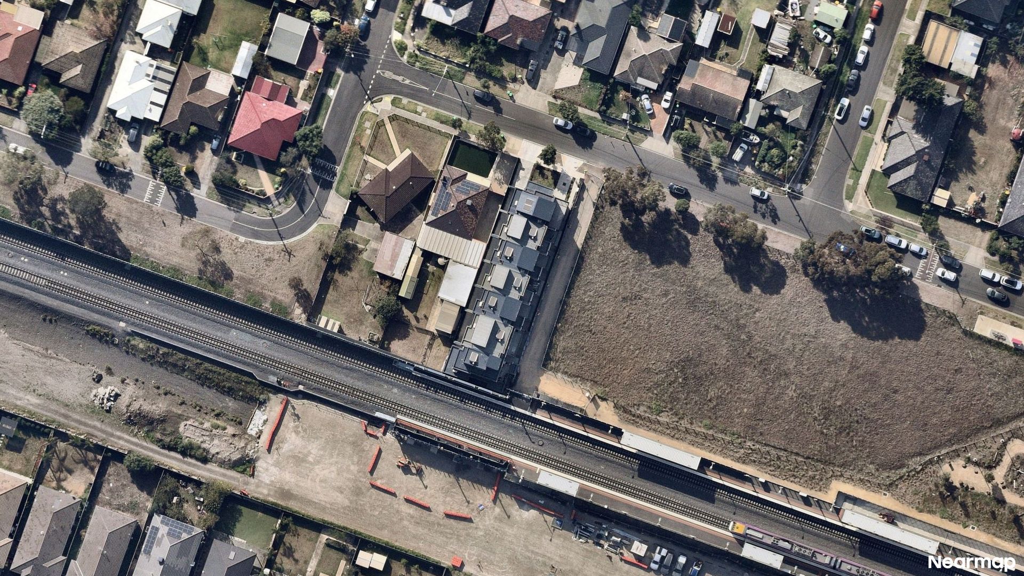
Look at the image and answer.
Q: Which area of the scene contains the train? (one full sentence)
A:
You can find the train in the bottom right area of the picture.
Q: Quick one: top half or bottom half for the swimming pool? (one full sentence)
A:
The swimming pool is in the top half of the image.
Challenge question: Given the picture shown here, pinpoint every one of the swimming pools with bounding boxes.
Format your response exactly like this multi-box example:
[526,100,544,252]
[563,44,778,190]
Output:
[446,139,500,179]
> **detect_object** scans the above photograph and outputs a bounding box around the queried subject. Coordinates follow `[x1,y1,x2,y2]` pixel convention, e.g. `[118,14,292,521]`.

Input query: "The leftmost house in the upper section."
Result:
[0,10,44,86]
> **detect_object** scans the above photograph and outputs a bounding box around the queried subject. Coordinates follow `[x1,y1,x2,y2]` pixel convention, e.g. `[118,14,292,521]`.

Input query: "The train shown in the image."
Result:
[729,519,894,576]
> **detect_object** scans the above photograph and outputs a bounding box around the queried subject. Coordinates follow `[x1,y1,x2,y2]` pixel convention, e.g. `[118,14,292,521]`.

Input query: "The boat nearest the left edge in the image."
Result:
[739,130,763,142]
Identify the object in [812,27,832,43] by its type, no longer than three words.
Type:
car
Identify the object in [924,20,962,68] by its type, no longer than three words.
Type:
building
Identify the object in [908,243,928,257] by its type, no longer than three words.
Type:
car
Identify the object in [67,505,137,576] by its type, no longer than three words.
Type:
house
